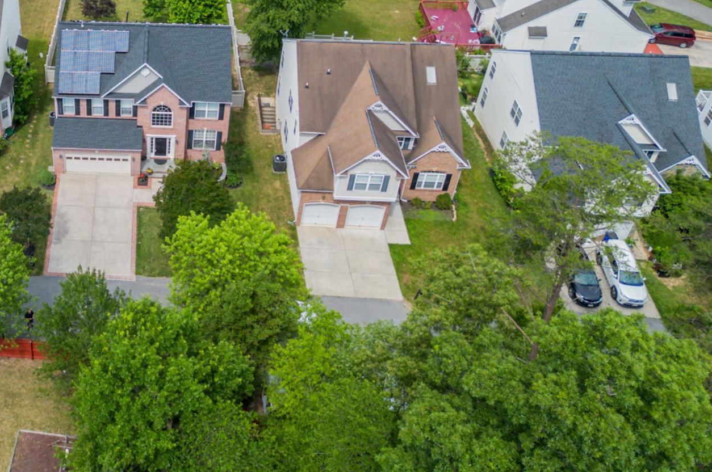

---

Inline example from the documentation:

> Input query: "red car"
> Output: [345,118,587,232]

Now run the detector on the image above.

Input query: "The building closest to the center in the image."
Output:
[275,26,474,228]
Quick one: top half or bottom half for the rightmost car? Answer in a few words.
top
